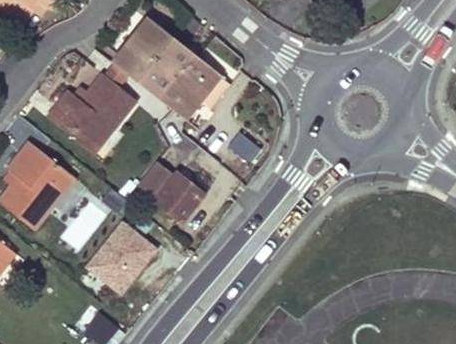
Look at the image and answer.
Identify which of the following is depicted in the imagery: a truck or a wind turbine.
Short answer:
truck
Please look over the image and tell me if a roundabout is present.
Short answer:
Yes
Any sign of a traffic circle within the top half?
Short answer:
Yes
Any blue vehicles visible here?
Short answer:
No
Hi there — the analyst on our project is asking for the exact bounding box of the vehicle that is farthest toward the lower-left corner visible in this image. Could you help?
[208,303,226,323]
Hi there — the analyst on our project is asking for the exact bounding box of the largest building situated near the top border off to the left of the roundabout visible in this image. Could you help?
[111,15,222,121]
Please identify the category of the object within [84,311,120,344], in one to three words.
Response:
shed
